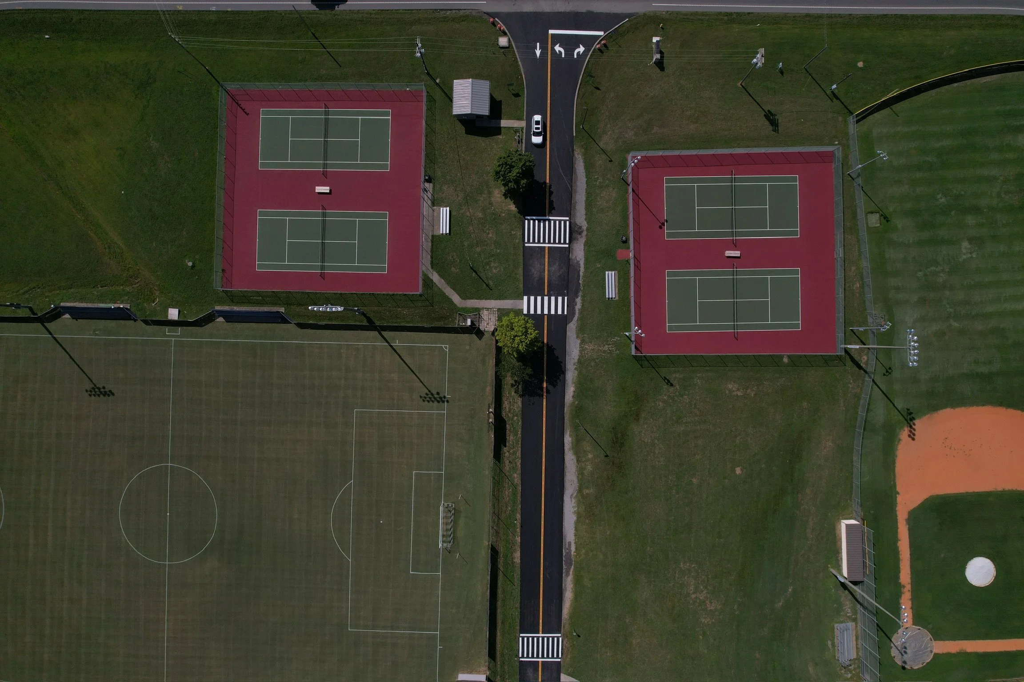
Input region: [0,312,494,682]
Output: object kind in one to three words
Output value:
soccer field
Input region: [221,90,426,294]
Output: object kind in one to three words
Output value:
tennis court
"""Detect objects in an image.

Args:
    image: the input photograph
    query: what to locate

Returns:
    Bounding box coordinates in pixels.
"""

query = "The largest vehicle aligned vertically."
[531,115,544,144]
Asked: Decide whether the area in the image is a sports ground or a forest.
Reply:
sports ground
